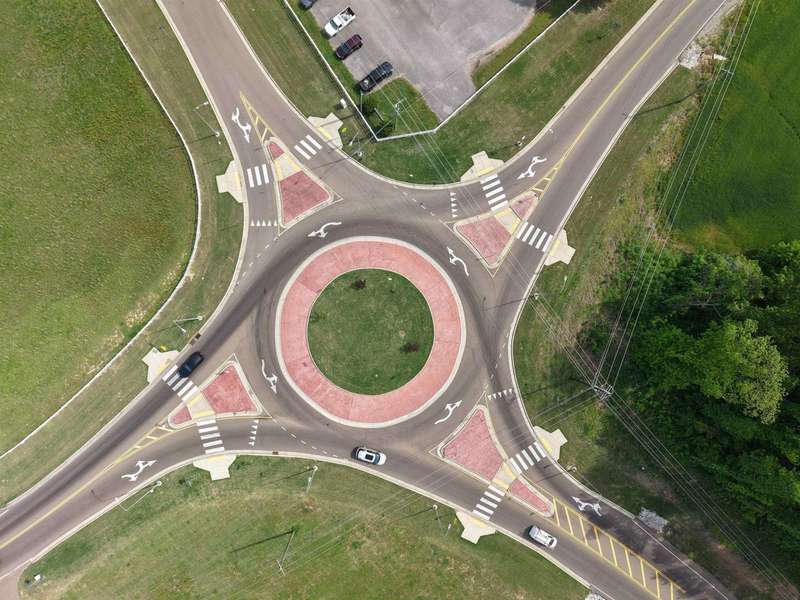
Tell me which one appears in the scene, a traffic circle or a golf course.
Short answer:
traffic circle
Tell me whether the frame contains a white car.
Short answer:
Yes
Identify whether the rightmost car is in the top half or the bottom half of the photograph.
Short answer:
bottom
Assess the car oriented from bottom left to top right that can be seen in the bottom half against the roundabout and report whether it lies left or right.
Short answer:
on its left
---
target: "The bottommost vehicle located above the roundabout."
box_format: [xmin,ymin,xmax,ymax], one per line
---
[357,62,395,94]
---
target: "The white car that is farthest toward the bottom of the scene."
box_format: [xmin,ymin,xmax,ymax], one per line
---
[525,523,558,549]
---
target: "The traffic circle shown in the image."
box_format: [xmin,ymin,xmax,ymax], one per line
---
[238,201,500,462]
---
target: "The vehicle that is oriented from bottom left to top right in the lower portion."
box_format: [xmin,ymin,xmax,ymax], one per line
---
[173,349,205,378]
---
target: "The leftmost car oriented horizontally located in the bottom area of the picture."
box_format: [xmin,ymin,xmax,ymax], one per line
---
[351,446,388,466]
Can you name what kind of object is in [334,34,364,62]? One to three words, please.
car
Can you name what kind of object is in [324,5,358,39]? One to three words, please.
truck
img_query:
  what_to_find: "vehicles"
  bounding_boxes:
[357,62,395,94]
[351,446,388,466]
[173,349,205,378]
[334,34,364,62]
[525,523,558,549]
[297,0,323,13]
[324,5,358,39]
